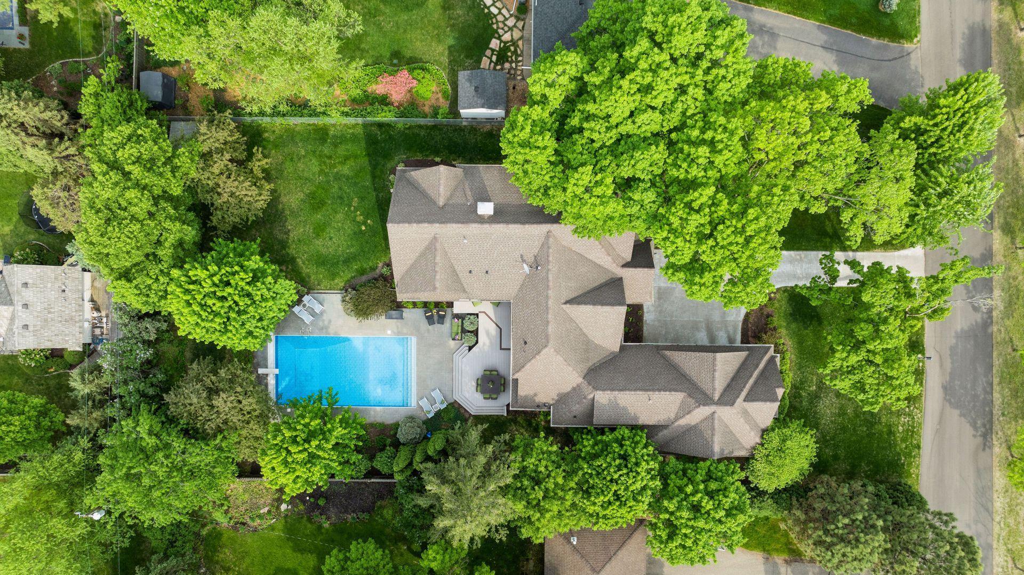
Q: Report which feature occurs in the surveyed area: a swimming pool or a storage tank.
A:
swimming pool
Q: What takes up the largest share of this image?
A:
trees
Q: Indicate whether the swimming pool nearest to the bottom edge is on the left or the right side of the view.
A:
left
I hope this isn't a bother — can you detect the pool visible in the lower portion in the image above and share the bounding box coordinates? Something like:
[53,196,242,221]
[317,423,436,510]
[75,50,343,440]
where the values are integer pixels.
[268,334,416,409]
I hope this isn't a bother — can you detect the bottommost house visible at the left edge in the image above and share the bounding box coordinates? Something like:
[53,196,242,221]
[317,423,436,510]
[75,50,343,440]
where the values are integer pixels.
[0,265,98,351]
